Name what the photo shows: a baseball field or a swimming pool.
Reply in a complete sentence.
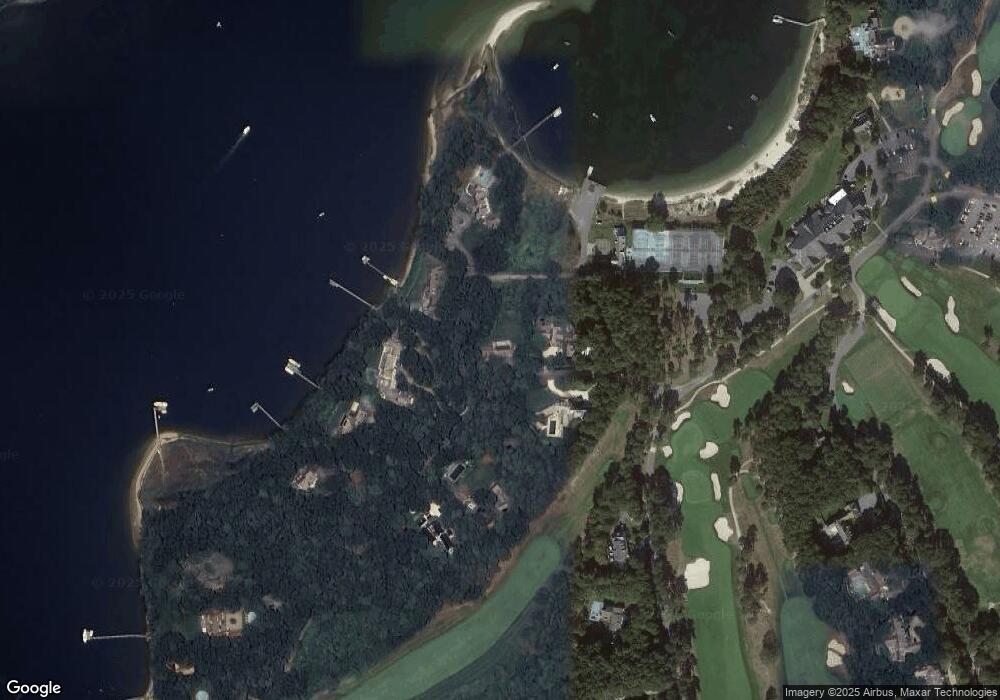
I can see a swimming pool in this picture.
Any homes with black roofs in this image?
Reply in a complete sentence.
Yes, this view includes a home with a black roof.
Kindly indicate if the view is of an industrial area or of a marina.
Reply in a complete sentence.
This looks like a marina.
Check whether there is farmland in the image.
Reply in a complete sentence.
No, farmland can't be seen anywhere here.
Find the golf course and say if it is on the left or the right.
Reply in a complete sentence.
The golf course sits on the right side.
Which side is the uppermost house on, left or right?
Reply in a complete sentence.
It is on the right.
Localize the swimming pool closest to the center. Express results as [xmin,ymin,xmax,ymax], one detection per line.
[547,411,562,437]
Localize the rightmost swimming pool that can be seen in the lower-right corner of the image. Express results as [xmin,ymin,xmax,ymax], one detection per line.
[850,573,869,597]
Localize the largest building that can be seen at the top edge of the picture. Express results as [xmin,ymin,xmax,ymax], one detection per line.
[850,17,896,61]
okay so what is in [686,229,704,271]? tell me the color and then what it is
gray tennis court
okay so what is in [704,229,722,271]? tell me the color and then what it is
gray tennis court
